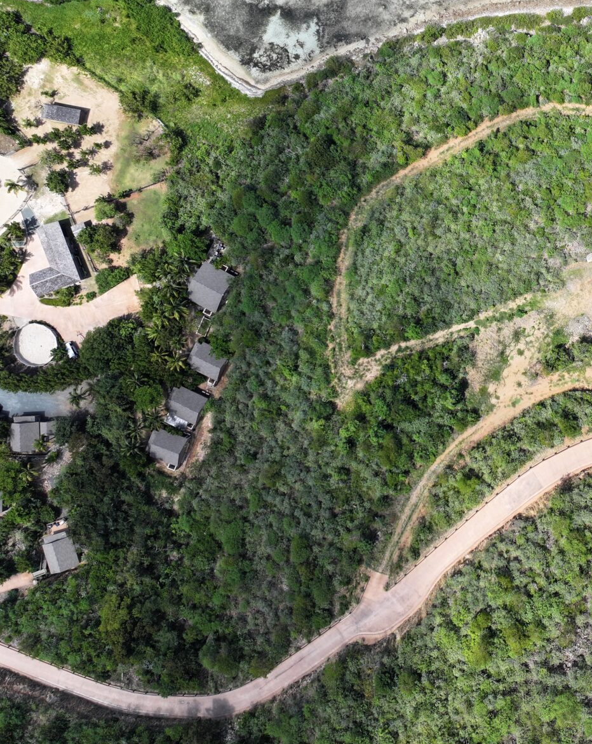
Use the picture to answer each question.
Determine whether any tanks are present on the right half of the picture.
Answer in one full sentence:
No, the scene shows no tank on the right half of the picture.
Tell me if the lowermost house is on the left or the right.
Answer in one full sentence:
The lowermost house appears in the left half of the scene.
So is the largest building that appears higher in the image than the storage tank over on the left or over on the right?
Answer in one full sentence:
The largest building that appears higher in the image than the storage tank appears in the left half of the scene.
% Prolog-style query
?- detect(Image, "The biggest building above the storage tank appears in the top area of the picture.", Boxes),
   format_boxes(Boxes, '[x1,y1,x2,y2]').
[29,222,86,297]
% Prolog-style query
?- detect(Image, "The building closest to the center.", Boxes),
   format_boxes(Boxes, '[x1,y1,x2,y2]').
[187,342,229,382]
